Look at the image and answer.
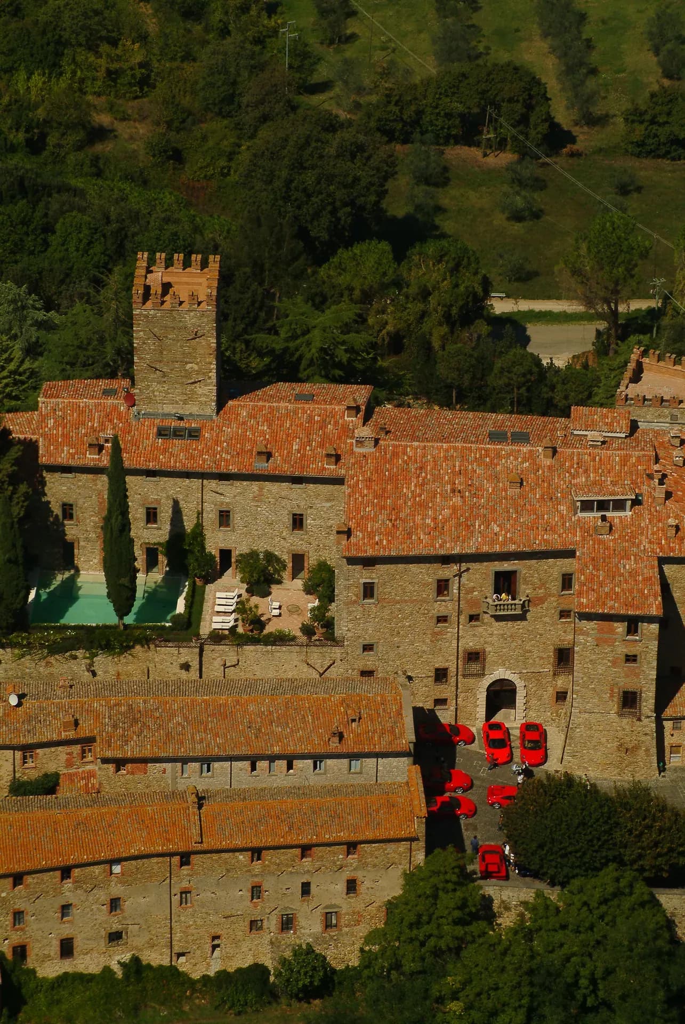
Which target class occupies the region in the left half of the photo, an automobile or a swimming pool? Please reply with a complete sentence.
It is a swimming pool that can be seen in the left half of the photo.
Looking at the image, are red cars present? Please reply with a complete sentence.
Yes, the image includes a red car.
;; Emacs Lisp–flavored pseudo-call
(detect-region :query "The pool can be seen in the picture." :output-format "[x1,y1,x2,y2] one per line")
[30,570,194,626]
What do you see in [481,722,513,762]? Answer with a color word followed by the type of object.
red car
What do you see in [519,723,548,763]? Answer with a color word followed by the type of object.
red car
